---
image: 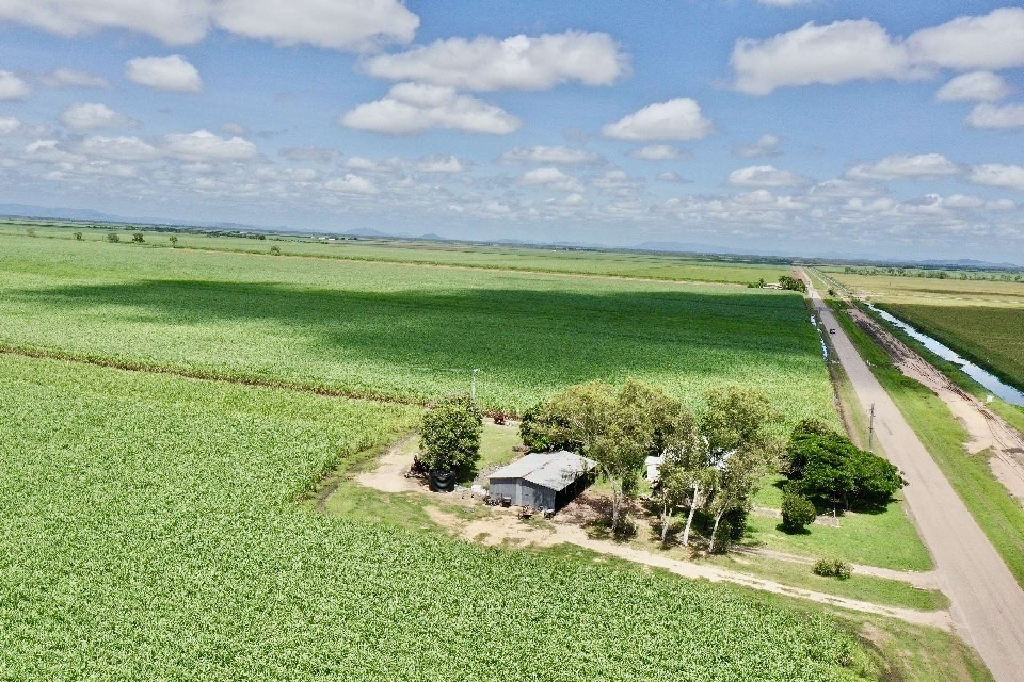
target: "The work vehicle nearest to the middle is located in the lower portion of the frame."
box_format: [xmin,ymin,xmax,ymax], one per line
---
[494,413,507,425]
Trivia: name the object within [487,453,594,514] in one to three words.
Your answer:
shed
